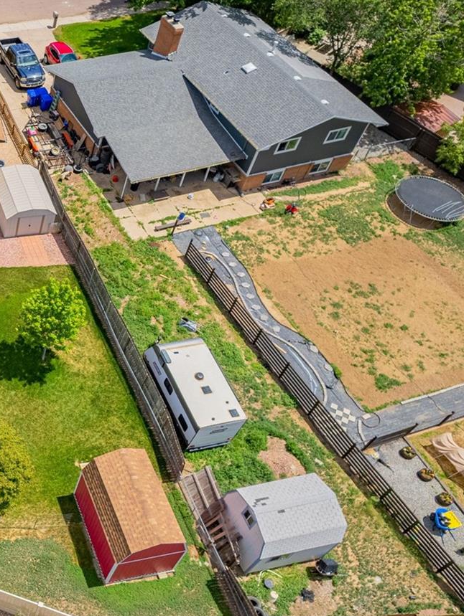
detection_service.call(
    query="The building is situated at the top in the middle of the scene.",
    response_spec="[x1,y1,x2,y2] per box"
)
[50,0,387,201]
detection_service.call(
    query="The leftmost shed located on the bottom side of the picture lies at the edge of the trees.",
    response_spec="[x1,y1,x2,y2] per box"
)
[66,448,193,583]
